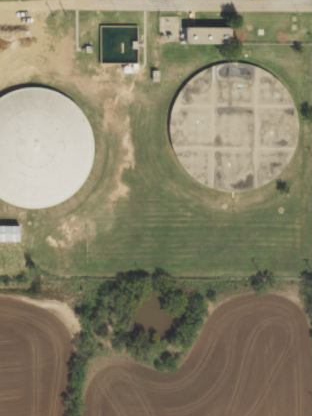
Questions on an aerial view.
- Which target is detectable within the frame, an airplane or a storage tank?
storage tank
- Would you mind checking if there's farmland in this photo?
Yes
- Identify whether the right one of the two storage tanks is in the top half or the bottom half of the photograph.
top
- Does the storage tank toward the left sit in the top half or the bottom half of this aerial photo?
top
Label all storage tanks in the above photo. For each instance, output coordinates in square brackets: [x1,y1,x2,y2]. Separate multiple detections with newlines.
[170,62,300,196]
[0,86,96,205]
